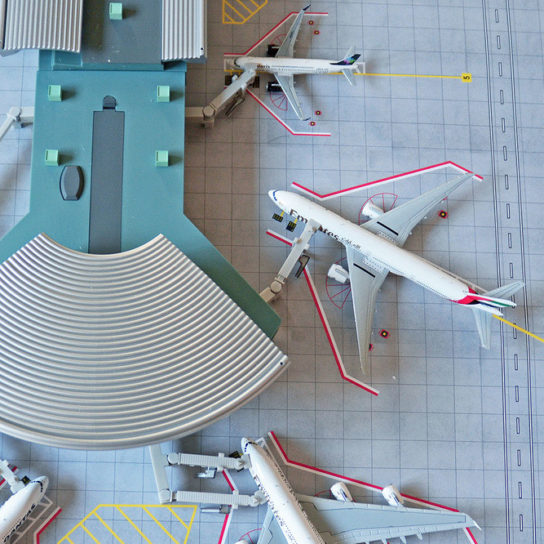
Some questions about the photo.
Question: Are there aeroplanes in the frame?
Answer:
Yes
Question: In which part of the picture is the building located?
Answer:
left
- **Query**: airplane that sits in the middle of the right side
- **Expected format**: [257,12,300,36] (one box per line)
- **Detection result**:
[268,170,526,375]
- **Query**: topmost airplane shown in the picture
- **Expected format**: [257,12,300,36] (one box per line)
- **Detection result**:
[231,3,360,119]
